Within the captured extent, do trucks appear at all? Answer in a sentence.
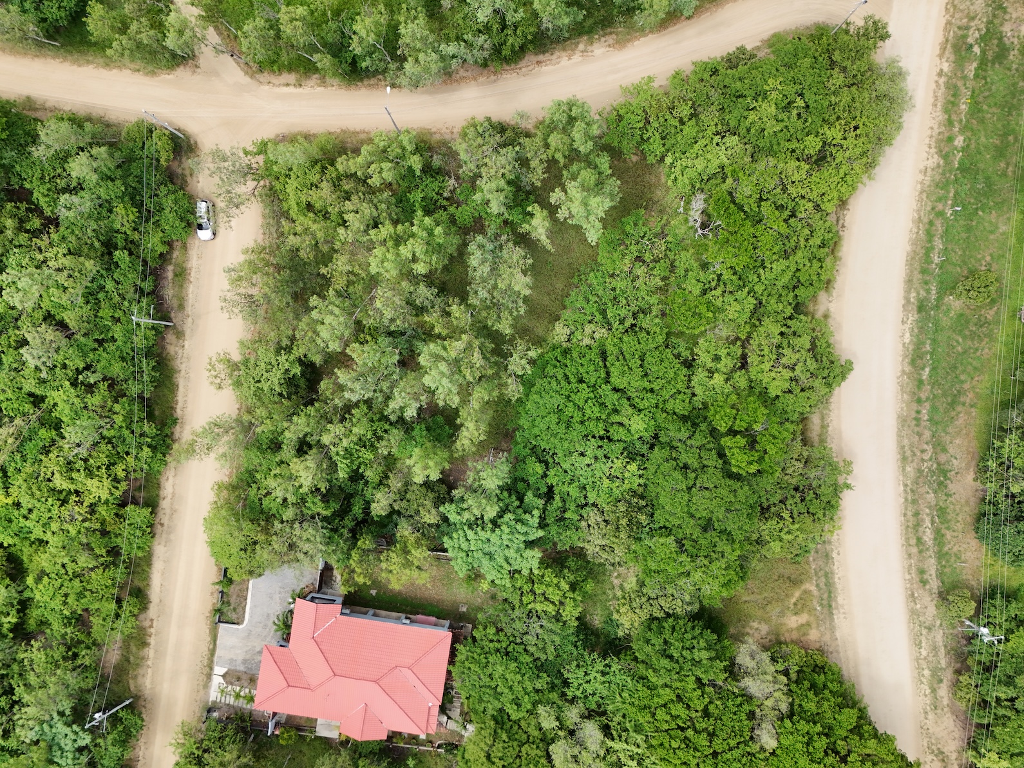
No, no truck is visible in the view.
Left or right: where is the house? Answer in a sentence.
It is on the left.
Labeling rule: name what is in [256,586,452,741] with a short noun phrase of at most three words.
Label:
house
